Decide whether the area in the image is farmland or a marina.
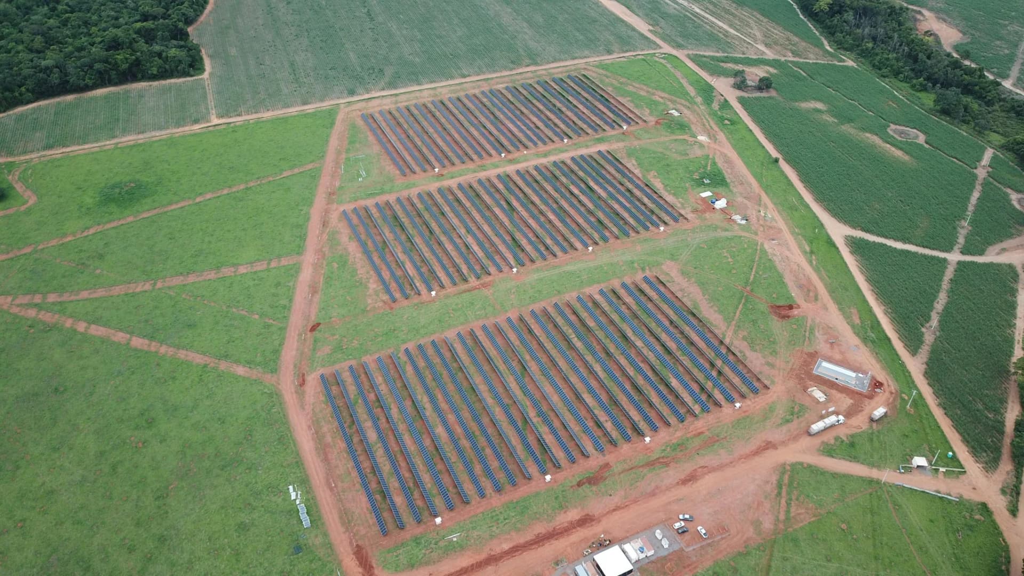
farmland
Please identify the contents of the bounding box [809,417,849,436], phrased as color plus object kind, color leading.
white vehicle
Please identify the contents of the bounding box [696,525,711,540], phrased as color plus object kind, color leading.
white vehicle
